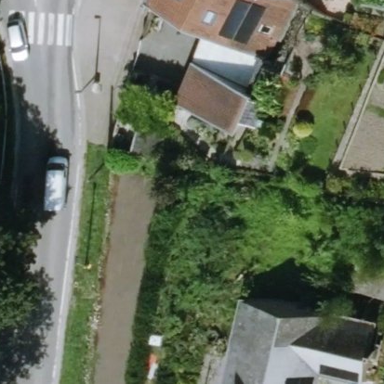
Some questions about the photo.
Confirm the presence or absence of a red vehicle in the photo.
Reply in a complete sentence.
No, I can see no red vehicle in this picture.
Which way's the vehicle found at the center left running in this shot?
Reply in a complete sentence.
In this picture, the vehicle found at the center left is oriented vertically.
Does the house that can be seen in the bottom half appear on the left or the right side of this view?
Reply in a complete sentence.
The house that can be seen in the bottom half appears in the right half of the scene.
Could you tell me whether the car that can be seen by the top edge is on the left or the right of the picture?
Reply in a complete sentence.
It is on the left.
